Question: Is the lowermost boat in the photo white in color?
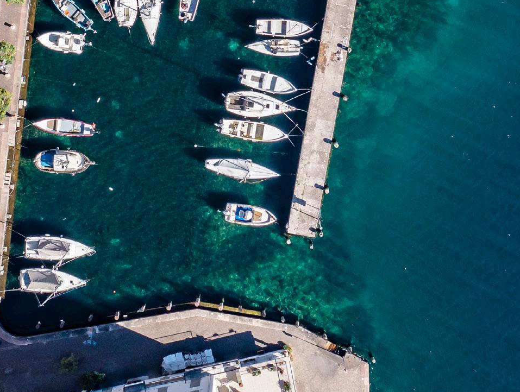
Yes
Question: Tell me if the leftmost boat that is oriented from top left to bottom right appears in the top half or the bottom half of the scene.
top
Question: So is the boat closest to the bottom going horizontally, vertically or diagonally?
horizontally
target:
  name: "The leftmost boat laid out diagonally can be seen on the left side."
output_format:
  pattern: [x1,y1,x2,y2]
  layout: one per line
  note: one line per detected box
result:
[53,0,95,31]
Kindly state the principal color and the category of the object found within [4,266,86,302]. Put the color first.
white boat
